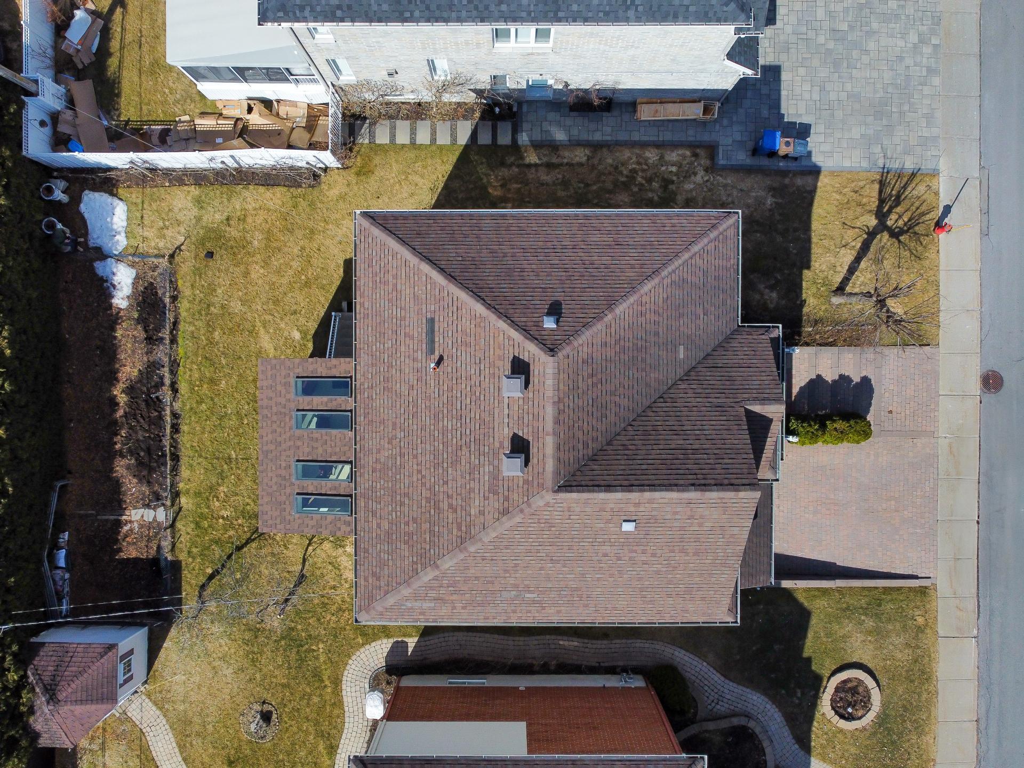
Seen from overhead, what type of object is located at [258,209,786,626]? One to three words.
house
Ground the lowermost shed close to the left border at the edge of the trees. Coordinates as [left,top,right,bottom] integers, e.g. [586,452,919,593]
[21,625,146,749]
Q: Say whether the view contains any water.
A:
No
